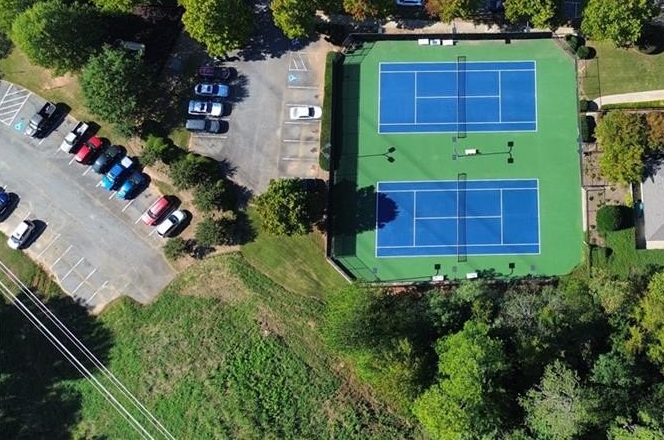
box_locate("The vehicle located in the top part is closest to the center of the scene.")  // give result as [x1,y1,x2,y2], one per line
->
[290,105,320,121]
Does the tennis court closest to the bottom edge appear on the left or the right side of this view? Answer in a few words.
right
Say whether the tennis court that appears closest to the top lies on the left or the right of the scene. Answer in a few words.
right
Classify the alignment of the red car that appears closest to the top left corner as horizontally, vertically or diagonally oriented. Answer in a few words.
diagonally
